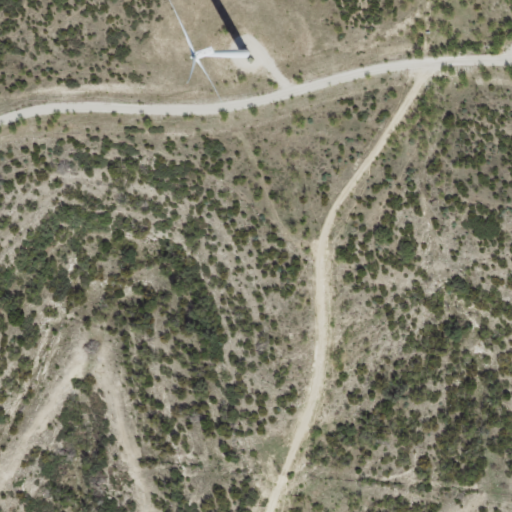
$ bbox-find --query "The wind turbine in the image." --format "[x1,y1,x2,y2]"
[170,0,252,98]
